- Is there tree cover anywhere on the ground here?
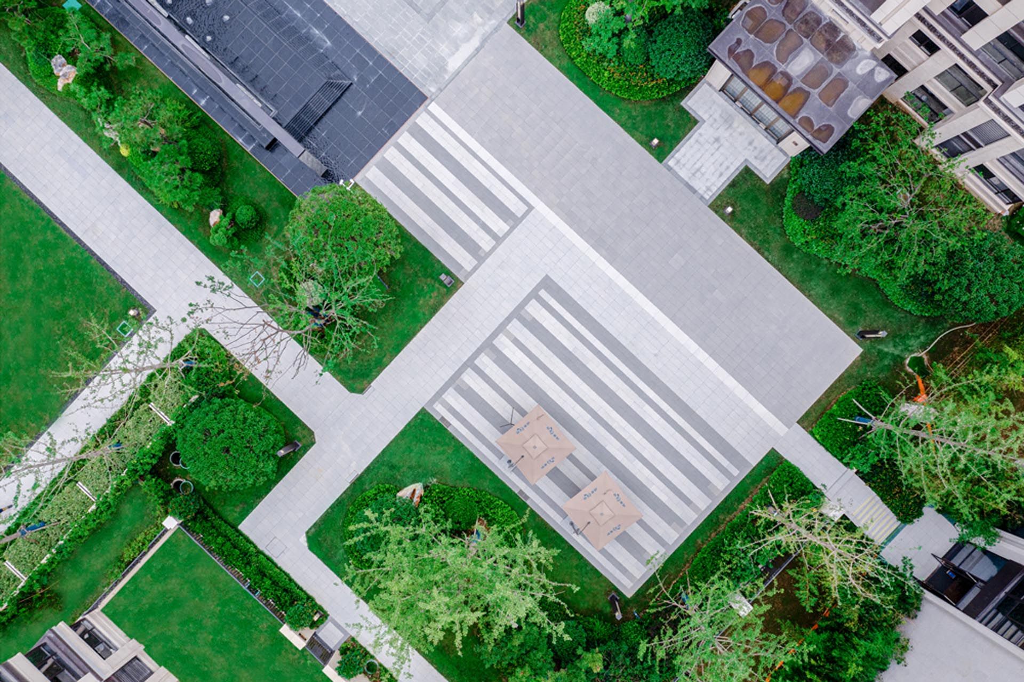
Yes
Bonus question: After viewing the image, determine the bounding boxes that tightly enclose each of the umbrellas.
[562,470,643,551]
[496,403,577,485]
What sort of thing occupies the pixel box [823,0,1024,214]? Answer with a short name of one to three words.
building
